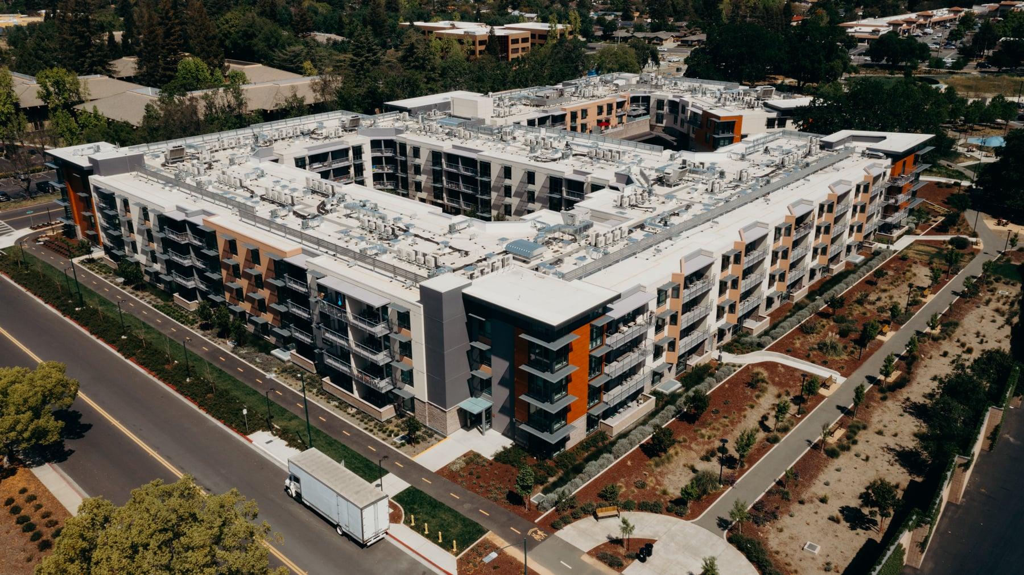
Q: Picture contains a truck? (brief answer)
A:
Yes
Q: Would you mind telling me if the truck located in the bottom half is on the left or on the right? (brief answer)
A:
left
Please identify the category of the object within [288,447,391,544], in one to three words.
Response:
truck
